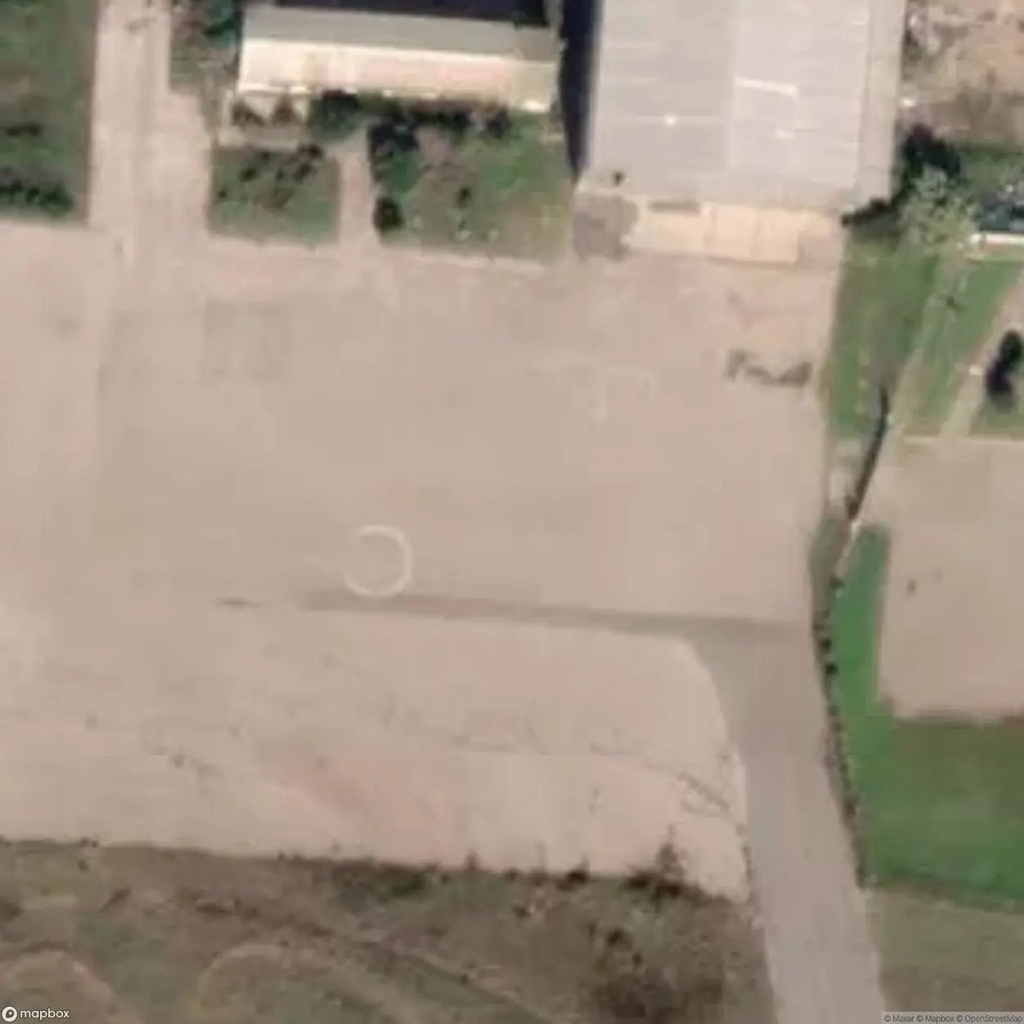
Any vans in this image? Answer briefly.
No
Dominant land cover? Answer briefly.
paved ground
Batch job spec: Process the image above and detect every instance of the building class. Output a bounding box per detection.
[575,0,894,216]
[232,5,556,122]
[971,194,1024,248]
